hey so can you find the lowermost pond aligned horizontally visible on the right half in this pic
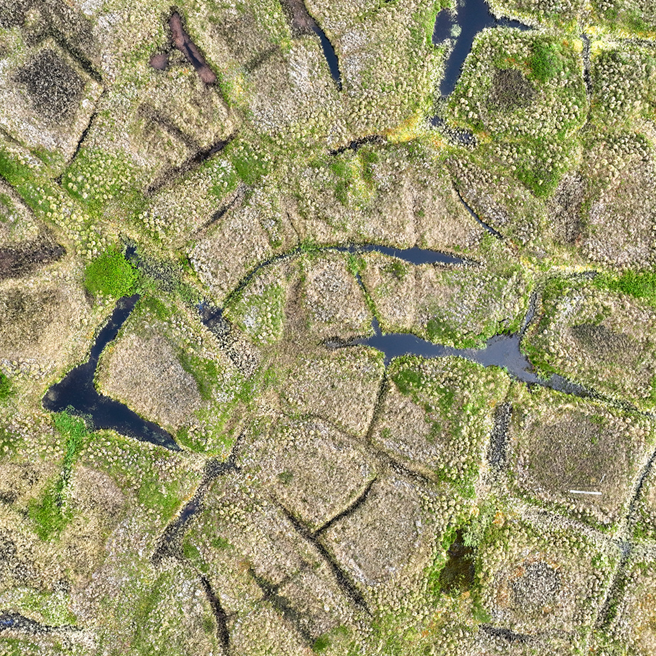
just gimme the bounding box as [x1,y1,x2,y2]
[339,317,601,398]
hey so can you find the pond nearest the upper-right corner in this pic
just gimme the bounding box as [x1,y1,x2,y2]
[432,0,532,97]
